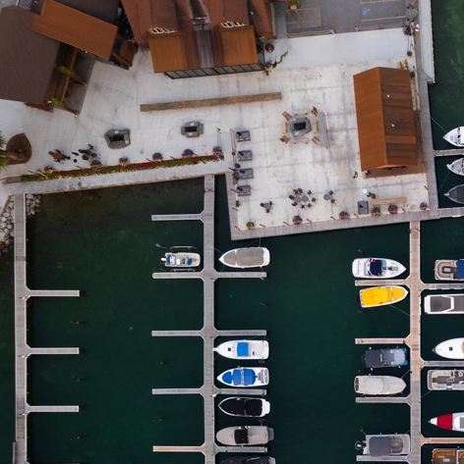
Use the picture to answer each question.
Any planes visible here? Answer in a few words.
No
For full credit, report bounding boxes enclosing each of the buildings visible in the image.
[125,0,281,80]
[0,0,141,123]
[353,64,425,179]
